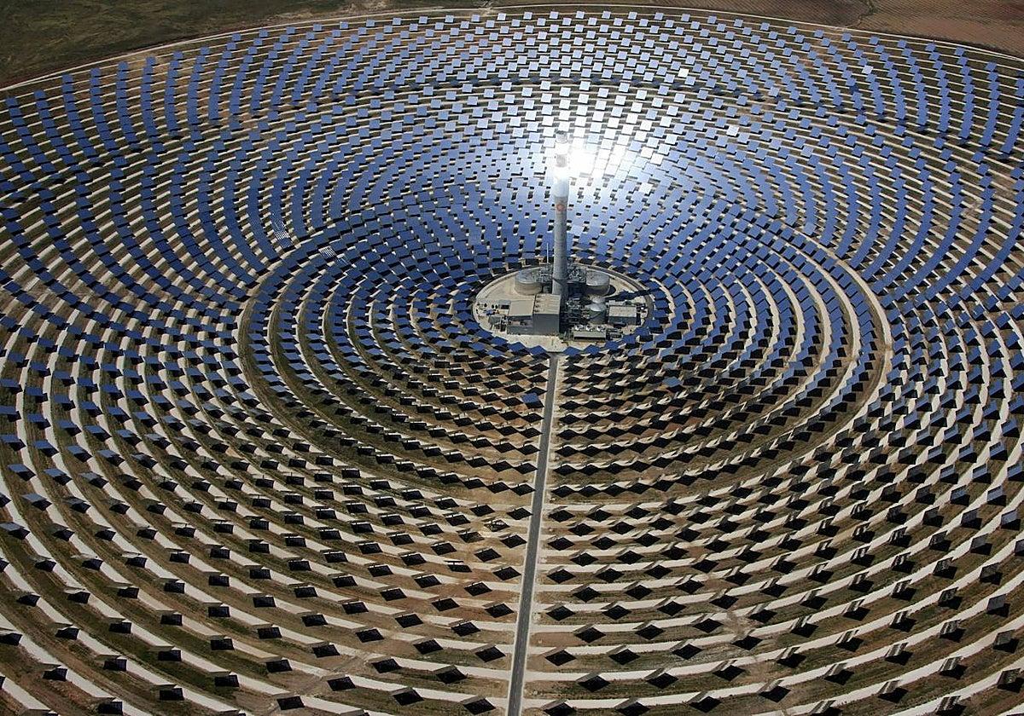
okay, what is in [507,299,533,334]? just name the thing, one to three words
building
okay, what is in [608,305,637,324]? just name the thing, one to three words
building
